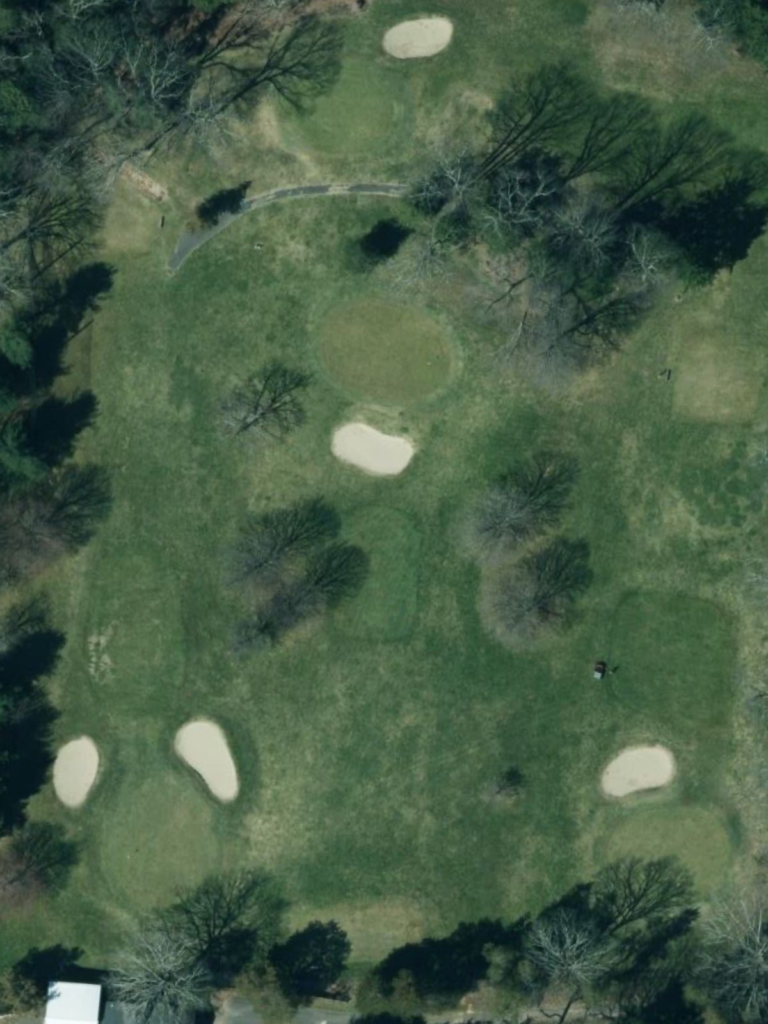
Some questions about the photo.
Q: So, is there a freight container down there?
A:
No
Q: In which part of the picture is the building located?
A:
bottom left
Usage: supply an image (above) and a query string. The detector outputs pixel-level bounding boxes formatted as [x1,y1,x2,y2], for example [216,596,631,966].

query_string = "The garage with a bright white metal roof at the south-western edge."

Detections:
[46,984,101,1024]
